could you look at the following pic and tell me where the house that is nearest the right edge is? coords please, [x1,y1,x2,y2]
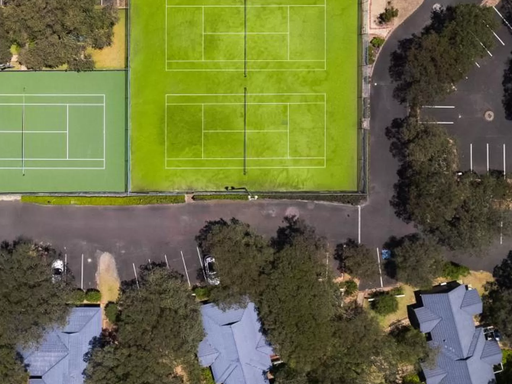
[411,281,502,384]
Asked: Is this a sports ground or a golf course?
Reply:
sports ground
